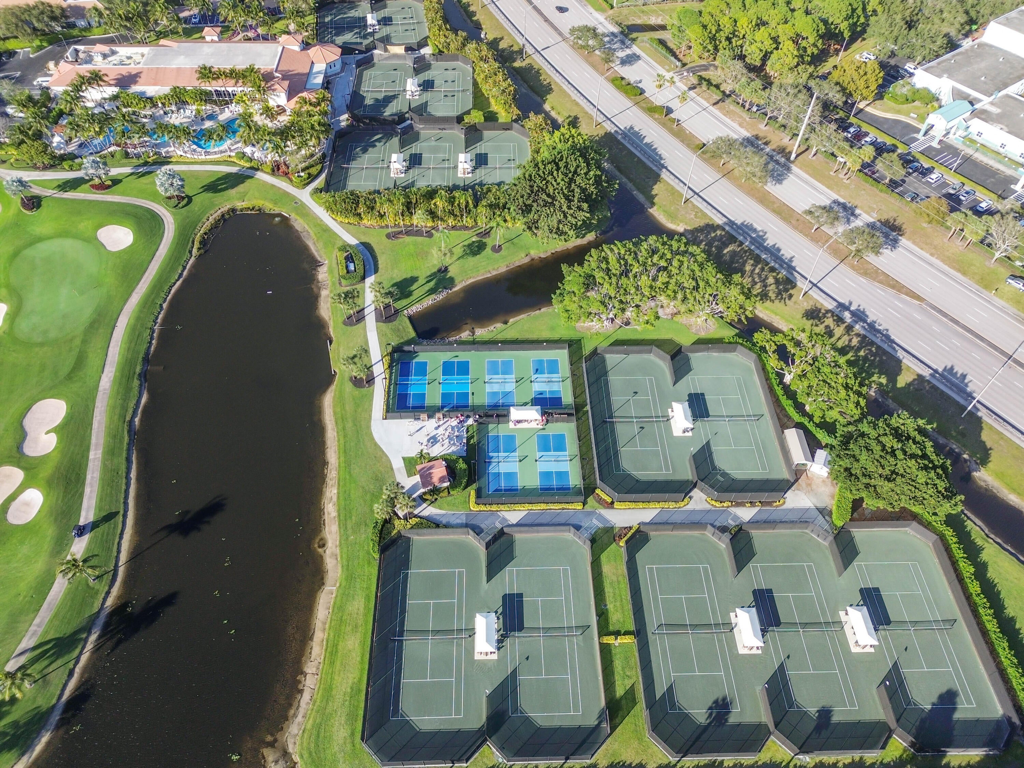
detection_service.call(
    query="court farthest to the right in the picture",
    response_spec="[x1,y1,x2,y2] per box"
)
[837,530,1008,749]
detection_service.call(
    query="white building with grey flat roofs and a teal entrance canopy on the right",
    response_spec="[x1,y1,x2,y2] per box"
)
[911,7,1024,175]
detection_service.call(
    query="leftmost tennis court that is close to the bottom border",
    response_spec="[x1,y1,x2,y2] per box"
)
[363,538,486,762]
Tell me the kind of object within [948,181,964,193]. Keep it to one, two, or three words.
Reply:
vehicle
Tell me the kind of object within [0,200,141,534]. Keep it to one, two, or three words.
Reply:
golf course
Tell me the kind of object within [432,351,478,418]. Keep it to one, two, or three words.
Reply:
sports court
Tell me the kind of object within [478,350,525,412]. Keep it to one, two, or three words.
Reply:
sports court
